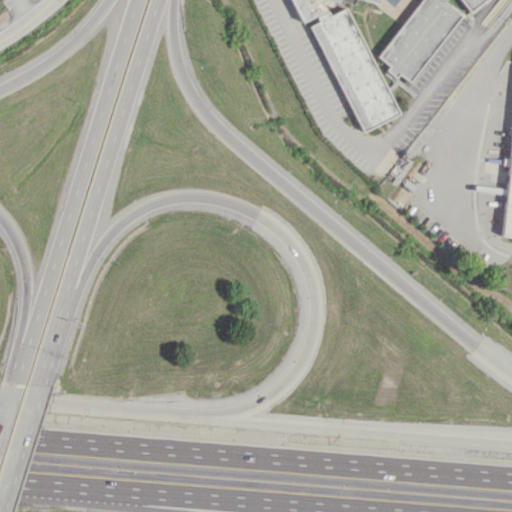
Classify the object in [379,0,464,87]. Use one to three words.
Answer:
building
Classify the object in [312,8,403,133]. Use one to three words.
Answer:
building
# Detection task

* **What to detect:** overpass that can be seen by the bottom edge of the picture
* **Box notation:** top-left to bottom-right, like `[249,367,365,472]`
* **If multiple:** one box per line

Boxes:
[0,378,56,512]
